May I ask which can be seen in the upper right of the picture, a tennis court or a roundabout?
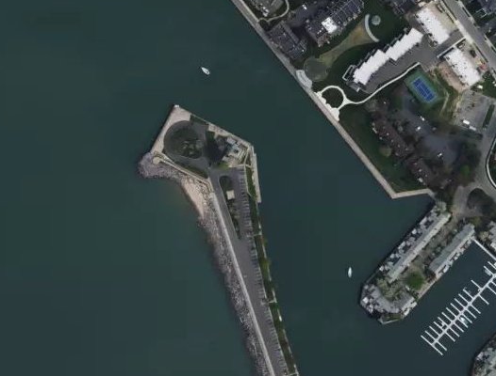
tennis court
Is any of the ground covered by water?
Yes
